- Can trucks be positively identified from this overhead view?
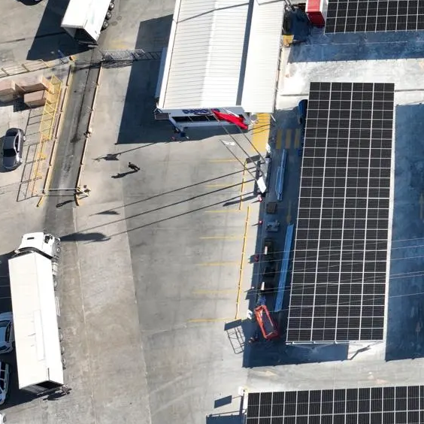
Yes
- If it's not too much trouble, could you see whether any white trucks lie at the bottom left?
Yes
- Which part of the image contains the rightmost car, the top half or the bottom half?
top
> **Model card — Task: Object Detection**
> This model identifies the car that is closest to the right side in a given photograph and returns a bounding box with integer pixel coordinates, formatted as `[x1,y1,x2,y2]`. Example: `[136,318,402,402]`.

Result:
[291,99,311,132]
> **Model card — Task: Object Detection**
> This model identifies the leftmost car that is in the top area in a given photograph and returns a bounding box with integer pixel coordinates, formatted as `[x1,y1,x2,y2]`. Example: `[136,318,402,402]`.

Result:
[0,129,27,169]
